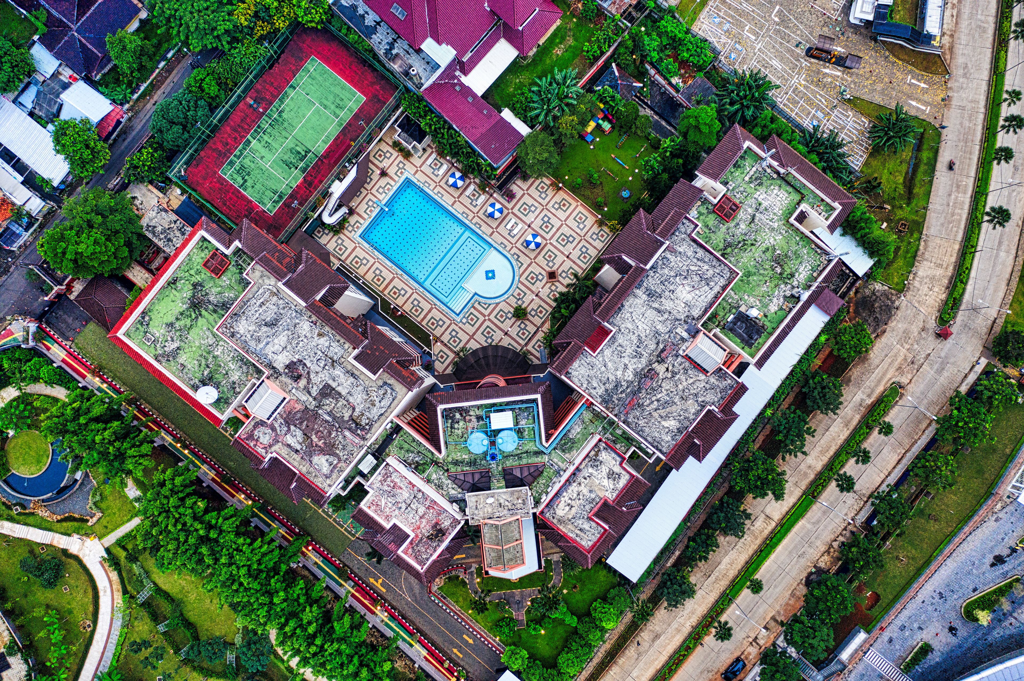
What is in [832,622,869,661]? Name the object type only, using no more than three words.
house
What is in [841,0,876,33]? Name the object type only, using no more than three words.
building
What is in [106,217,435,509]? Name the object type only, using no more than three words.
building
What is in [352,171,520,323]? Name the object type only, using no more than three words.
swimming pool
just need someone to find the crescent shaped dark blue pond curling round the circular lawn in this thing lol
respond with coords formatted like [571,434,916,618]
[0,425,83,508]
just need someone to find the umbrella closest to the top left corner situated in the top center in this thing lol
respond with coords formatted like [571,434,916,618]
[449,172,465,188]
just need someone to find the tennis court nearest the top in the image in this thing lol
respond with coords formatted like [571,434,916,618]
[184,22,404,239]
